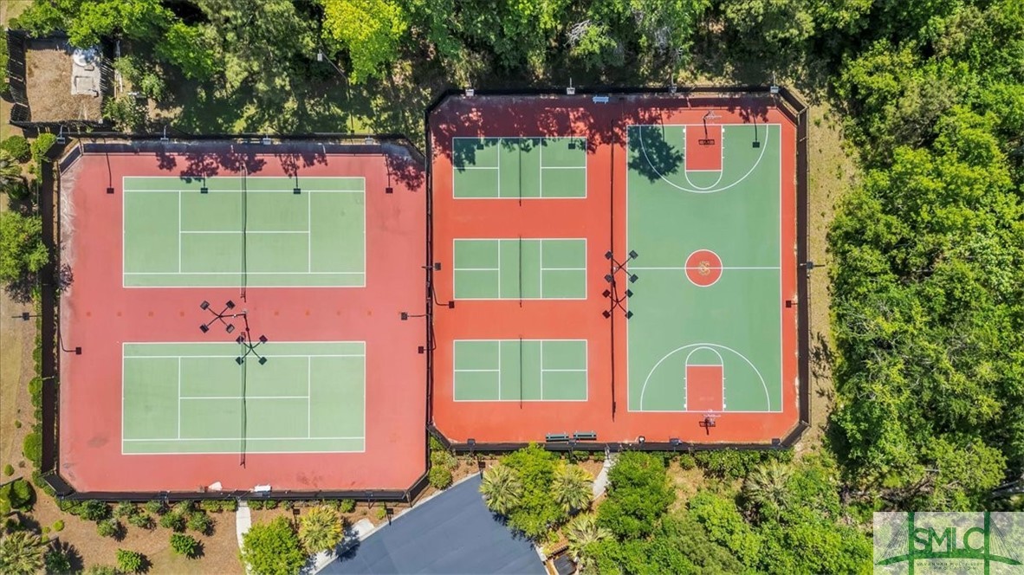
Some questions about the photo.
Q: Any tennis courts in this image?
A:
Yes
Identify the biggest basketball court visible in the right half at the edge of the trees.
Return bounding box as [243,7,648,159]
[628,124,783,412]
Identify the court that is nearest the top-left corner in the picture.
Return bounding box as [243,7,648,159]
[122,177,365,288]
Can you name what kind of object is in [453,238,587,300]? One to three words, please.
sports court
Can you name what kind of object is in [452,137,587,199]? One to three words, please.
sports court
